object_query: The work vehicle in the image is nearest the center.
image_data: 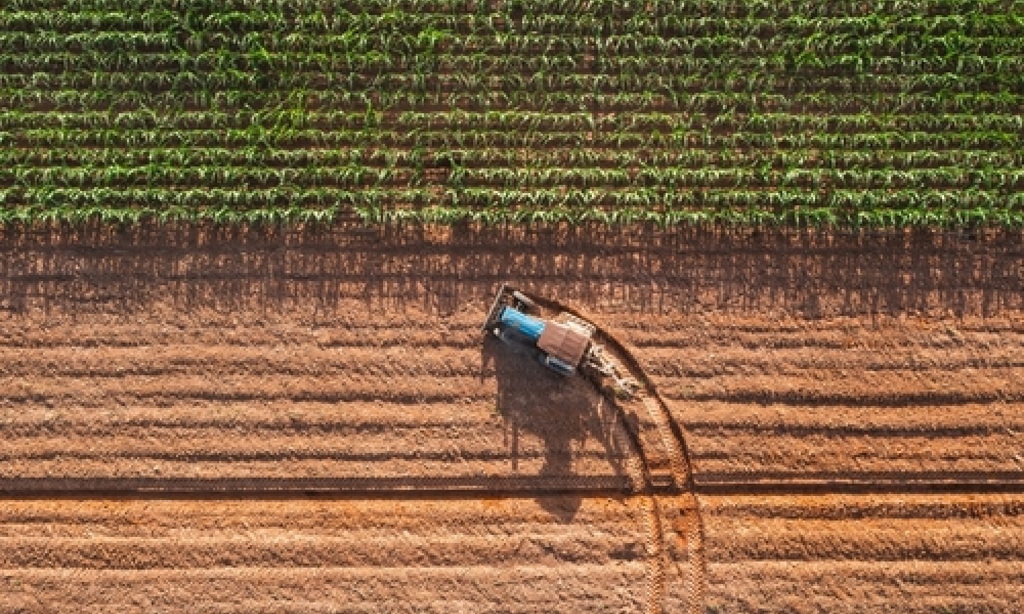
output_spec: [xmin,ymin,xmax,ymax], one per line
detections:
[483,284,598,377]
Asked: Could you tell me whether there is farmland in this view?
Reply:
Yes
